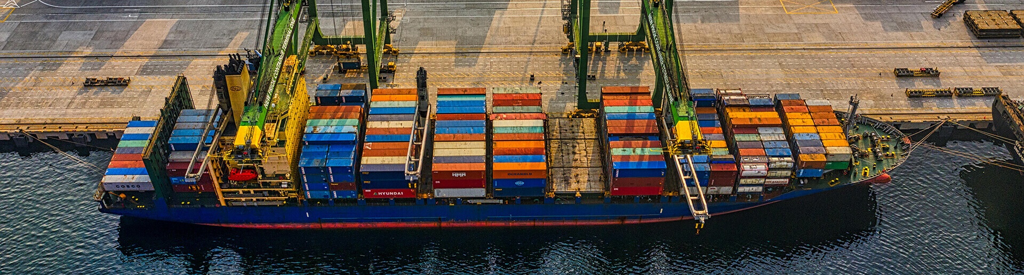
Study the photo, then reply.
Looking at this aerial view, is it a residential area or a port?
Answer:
port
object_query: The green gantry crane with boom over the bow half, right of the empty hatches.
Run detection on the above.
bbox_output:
[561,0,730,157]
